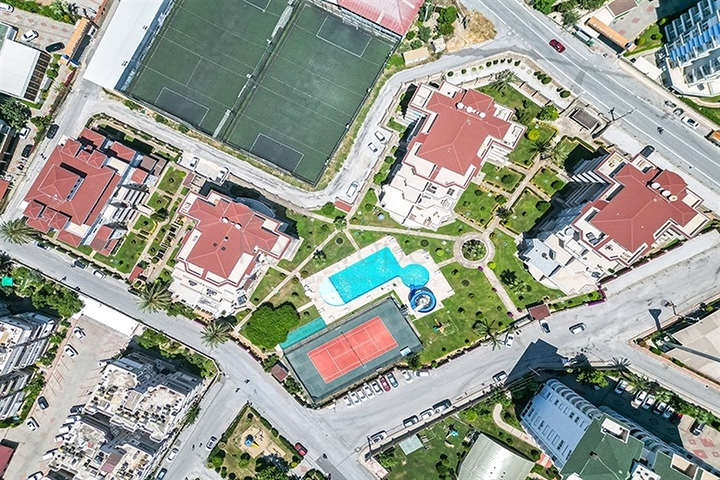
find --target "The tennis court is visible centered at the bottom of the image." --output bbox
[283,298,424,401]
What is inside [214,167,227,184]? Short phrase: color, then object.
white vehicle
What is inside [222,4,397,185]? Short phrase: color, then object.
green soccer field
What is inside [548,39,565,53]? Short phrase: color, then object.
red car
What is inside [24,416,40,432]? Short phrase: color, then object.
white car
